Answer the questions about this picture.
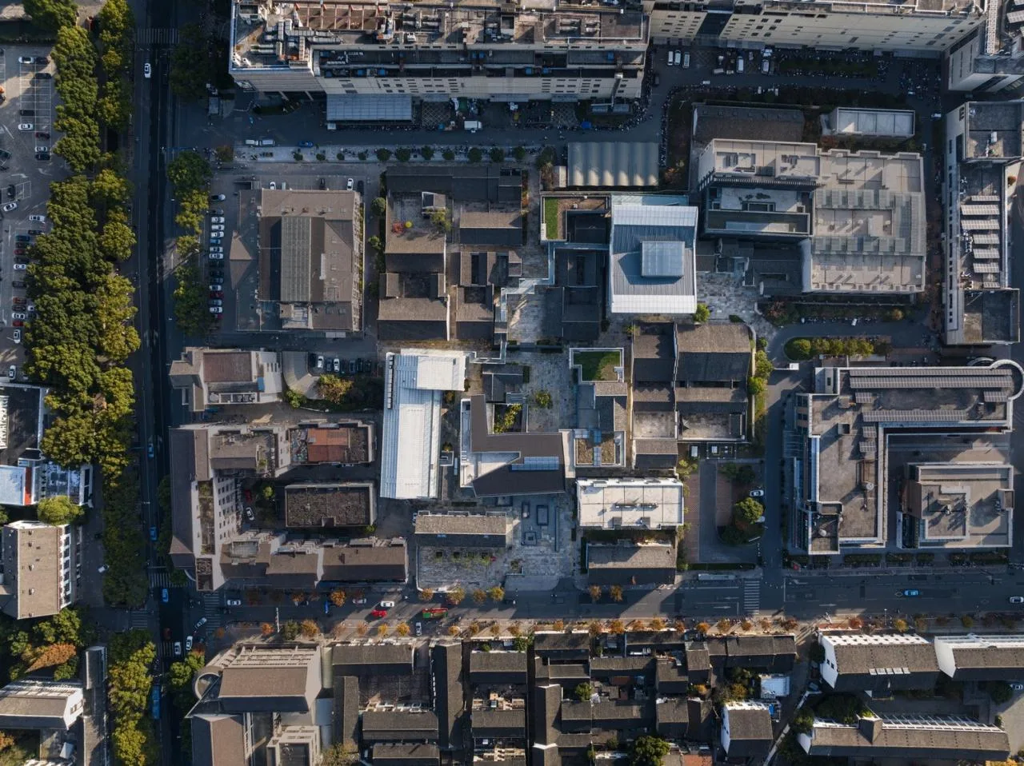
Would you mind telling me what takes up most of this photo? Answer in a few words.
buildings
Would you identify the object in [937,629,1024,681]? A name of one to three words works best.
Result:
house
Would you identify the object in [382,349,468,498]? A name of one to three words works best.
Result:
building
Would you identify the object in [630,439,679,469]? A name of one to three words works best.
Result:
house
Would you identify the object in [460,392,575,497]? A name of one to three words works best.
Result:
building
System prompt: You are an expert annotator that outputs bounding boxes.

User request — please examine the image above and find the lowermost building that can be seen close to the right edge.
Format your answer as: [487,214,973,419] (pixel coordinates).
[802,710,1014,761]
